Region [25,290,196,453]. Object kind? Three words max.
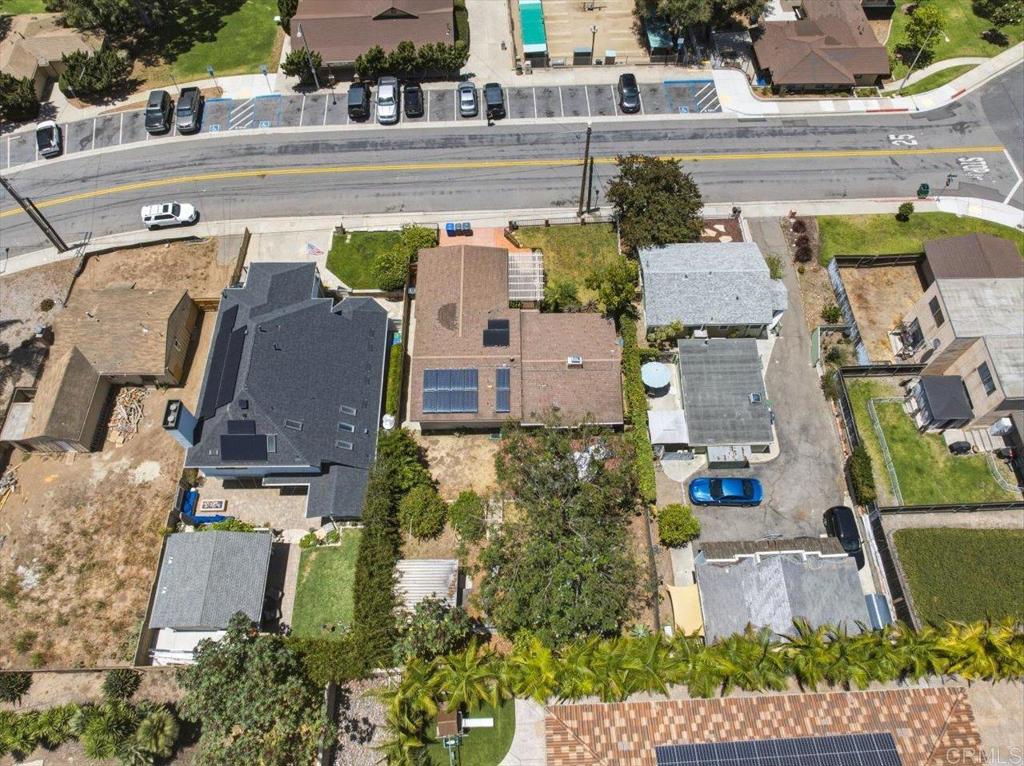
house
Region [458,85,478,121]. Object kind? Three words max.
car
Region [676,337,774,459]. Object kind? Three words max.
house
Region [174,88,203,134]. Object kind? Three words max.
truck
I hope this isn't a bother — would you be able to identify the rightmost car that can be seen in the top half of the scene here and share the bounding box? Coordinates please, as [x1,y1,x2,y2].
[616,73,641,114]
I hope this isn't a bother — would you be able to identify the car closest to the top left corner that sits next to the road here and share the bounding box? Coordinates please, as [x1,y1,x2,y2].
[36,125,66,160]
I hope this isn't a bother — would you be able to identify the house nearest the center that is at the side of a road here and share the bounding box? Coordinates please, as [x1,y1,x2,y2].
[410,245,624,435]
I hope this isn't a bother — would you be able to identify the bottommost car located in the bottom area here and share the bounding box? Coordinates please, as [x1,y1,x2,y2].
[820,501,868,574]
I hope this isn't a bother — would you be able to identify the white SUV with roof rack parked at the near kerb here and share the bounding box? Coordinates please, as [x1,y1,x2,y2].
[140,201,199,229]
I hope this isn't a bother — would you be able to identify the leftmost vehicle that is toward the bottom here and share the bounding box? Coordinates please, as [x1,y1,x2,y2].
[687,476,763,510]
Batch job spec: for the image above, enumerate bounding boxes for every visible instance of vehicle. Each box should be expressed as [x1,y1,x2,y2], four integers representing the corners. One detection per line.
[484,79,506,121]
[687,476,763,510]
[616,73,641,114]
[458,85,478,121]
[140,201,199,229]
[376,78,399,126]
[820,501,868,574]
[36,125,66,160]
[144,90,172,134]
[174,88,203,134]
[403,81,425,121]
[347,88,370,121]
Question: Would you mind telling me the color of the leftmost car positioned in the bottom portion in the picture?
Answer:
blue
